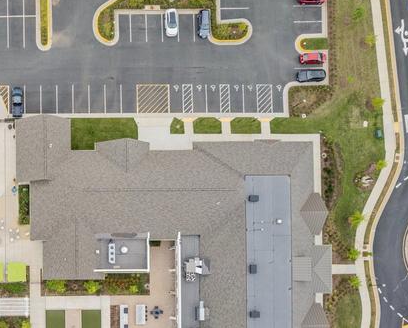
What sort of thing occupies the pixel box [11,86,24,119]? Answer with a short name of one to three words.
vehicle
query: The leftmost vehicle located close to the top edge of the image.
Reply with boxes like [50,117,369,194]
[164,8,179,39]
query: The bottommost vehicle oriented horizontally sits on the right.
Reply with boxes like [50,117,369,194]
[294,68,325,83]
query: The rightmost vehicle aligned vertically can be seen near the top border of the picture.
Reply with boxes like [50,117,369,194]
[197,8,211,40]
